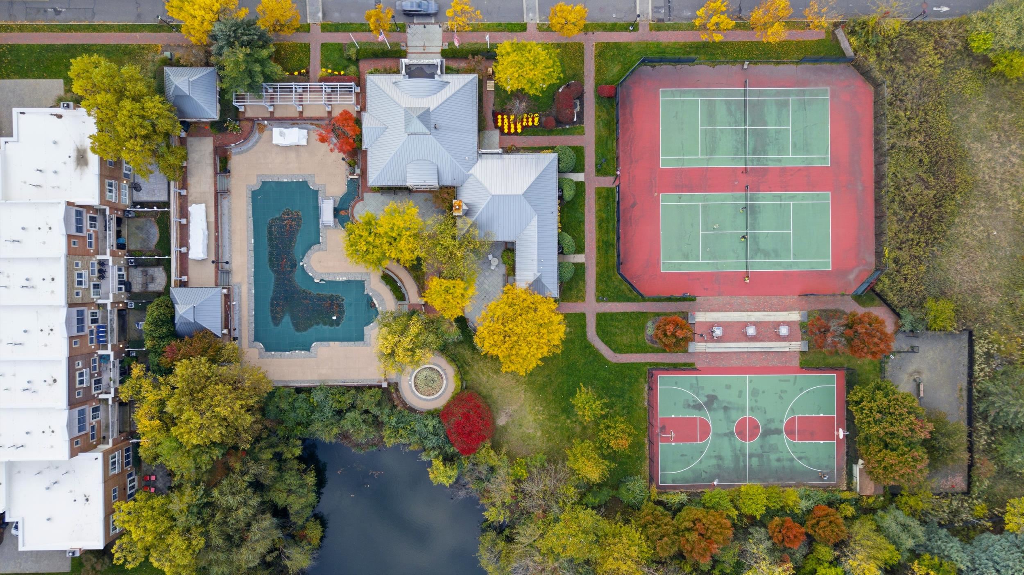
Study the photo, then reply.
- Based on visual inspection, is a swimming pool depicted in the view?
Yes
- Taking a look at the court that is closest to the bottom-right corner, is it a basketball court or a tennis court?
basketball court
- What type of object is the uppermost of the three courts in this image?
tennis court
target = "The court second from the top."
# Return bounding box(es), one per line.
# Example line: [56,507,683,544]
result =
[660,192,831,272]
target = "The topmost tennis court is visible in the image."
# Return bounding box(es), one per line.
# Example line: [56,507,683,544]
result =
[660,87,830,167]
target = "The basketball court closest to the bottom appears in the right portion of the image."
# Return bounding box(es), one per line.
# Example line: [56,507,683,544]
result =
[658,374,836,485]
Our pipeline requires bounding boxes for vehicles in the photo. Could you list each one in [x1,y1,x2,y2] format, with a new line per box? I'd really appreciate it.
[0,511,5,533]
[13,522,18,535]
[399,0,435,15]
